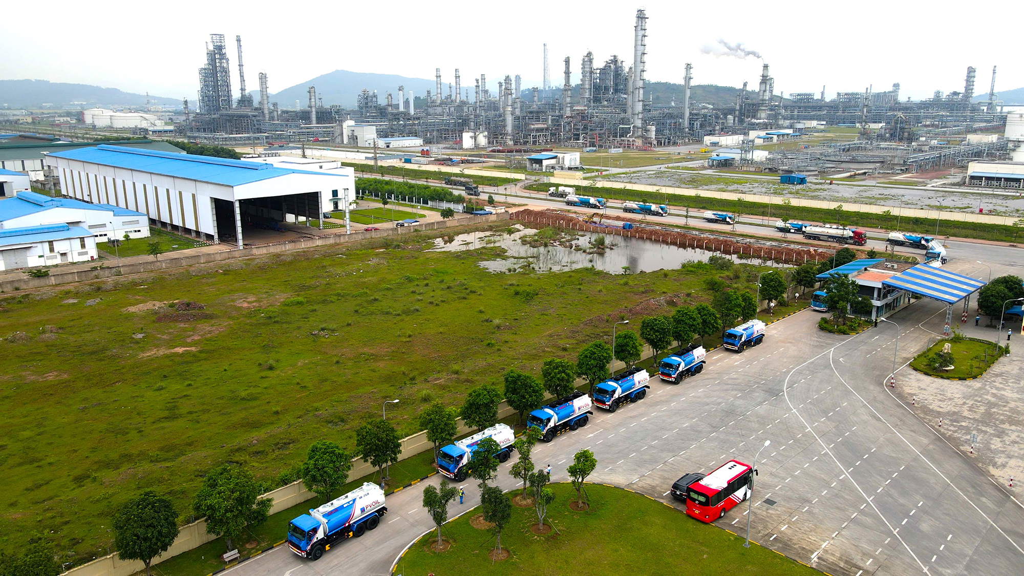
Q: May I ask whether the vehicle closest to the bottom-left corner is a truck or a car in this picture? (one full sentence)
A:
The vehicle closest to the bottom-left corner can be classified as a truck.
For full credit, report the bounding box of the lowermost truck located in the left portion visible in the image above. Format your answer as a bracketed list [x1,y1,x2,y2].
[280,483,394,562]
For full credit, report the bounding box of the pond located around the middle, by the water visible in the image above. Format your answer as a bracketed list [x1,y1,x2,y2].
[425,223,794,274]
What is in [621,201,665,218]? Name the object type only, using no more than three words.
vehicle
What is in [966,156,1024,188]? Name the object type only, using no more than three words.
building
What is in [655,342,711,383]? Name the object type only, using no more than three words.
truck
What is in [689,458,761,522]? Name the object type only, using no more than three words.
bus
